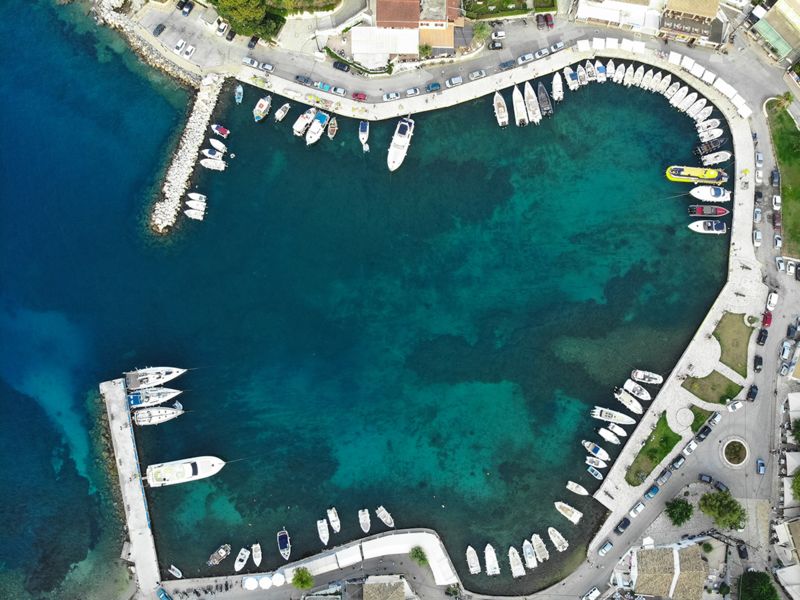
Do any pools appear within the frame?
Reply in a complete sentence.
No, the scene contains no pool.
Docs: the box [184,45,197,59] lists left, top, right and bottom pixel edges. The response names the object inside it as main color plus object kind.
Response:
white vehicle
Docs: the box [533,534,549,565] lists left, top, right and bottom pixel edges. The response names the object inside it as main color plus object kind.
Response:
white boat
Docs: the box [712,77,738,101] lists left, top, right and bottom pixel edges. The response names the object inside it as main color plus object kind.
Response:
white umbrella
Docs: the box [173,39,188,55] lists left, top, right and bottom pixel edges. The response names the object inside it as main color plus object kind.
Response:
white car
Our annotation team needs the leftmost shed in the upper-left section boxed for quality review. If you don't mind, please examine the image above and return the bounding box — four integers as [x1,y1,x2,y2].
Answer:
[199,6,220,33]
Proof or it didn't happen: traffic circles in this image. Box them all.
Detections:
[719,437,751,469]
